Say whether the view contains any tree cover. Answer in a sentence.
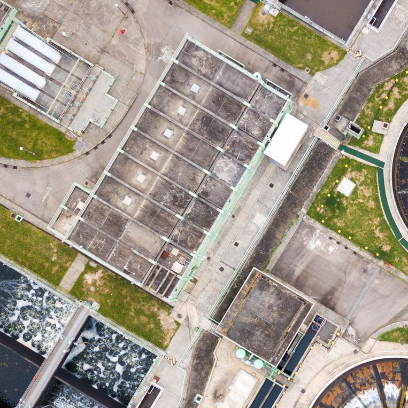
No, the picture contains no tree cover.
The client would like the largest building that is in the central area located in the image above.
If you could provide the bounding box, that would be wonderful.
[63,36,295,303]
